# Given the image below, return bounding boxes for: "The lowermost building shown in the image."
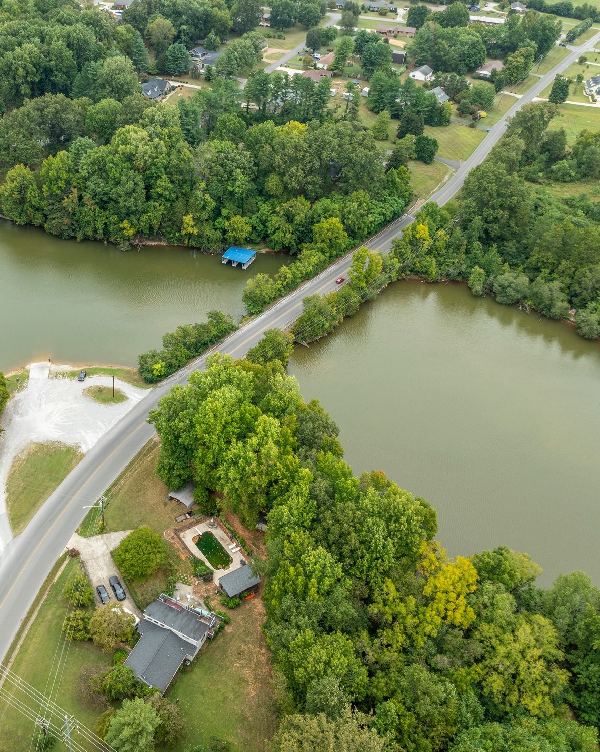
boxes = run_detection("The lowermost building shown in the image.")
[129,587,229,697]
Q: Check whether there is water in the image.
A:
Yes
